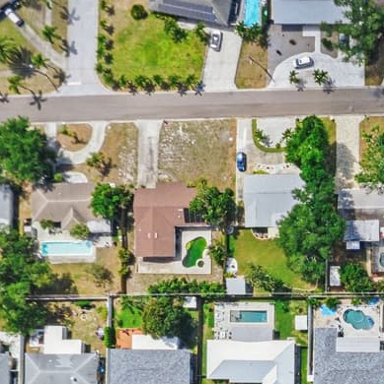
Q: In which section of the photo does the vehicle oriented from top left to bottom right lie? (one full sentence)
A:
The vehicle oriented from top left to bottom right appears toward the top left of the photo.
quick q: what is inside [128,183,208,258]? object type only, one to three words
house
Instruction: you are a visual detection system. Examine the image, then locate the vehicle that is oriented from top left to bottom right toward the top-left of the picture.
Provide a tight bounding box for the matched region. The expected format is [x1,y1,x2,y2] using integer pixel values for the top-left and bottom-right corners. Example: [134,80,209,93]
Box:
[2,6,24,27]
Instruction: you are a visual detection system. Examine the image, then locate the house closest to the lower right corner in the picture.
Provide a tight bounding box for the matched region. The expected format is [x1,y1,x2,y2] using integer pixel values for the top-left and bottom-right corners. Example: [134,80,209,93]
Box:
[311,327,384,384]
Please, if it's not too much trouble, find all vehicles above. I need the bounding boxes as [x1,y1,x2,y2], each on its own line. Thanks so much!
[2,6,24,27]
[339,28,348,47]
[293,54,313,66]
[236,152,246,171]
[209,29,221,50]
